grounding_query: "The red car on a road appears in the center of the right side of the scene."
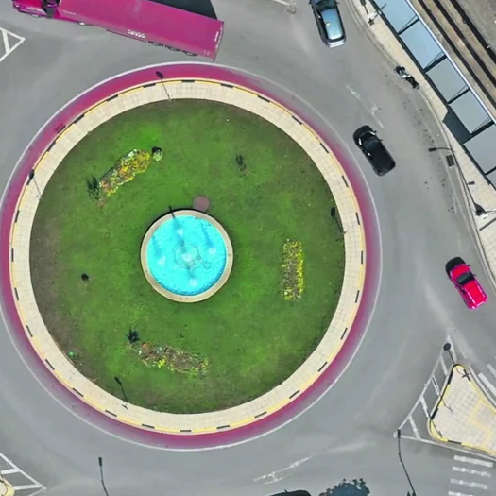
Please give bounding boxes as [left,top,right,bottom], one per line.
[450,261,490,311]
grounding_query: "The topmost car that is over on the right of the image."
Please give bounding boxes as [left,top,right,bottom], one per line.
[309,0,346,48]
